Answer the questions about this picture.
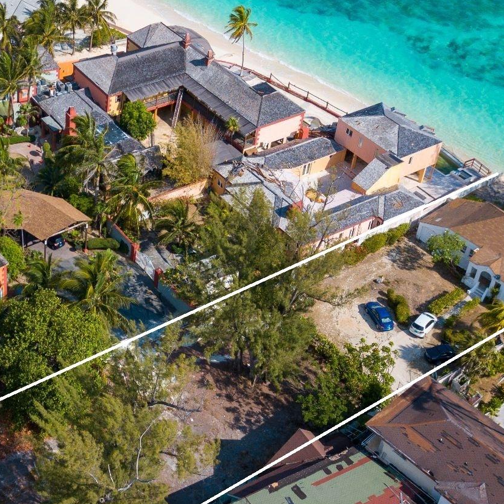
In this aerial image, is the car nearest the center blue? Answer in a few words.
Yes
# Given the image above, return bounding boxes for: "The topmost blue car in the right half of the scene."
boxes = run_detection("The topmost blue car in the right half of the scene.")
[362,304,397,335]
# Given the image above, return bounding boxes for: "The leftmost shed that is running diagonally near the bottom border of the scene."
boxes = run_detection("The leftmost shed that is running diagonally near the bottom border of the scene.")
[231,429,333,503]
